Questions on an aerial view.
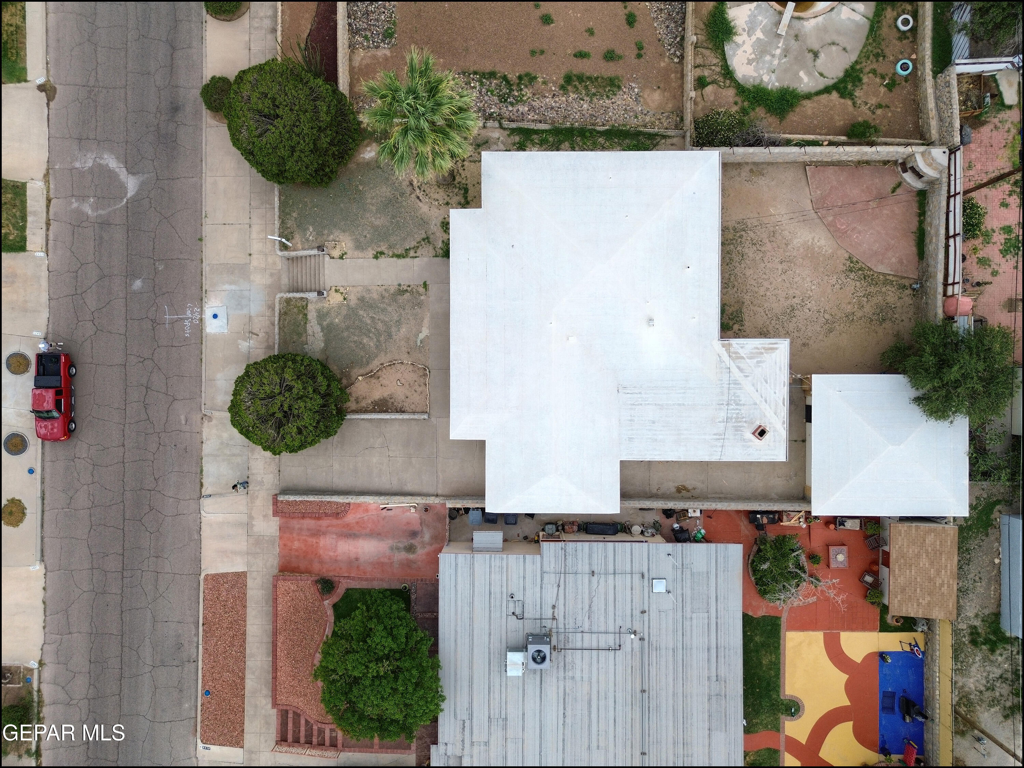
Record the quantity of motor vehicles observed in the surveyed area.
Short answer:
1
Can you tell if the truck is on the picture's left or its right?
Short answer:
left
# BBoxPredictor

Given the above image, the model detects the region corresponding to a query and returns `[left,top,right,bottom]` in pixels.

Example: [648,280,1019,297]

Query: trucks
[30,351,78,443]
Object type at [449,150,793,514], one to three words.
house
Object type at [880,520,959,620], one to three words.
shed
